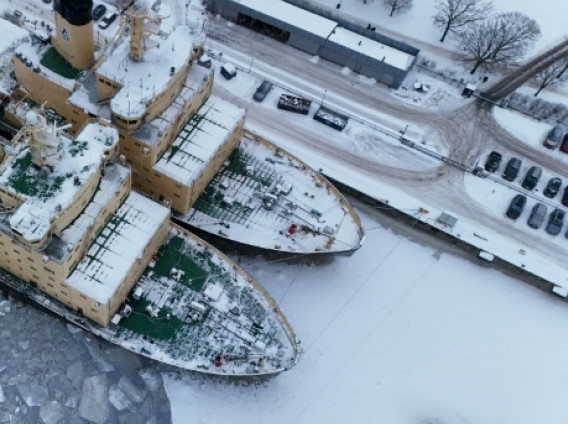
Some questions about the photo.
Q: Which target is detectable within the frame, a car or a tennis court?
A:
car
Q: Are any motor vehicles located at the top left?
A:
Yes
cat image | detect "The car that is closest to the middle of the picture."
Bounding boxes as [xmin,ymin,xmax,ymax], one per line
[252,82,272,102]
